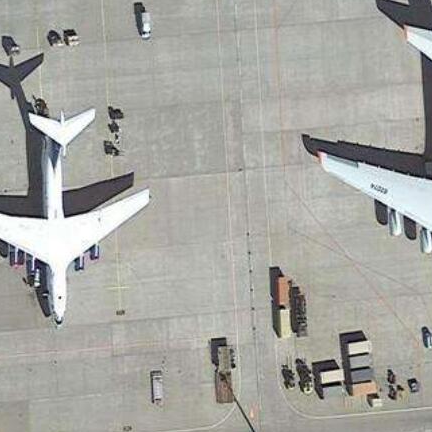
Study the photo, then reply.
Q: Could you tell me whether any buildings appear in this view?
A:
No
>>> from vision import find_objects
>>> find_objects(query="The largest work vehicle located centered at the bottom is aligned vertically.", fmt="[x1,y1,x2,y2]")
[214,347,235,402]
